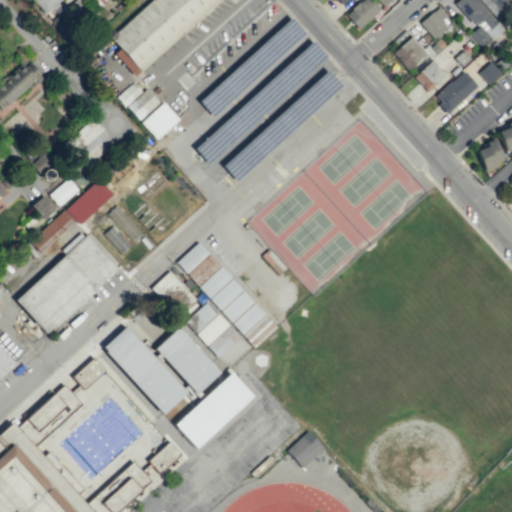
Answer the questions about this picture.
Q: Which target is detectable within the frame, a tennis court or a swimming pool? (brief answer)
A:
tennis court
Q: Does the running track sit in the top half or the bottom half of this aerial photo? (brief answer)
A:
bottom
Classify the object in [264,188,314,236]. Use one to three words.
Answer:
tennis court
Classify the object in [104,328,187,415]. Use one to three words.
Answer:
building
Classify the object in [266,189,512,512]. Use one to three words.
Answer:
sports field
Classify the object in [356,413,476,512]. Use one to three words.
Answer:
baseball field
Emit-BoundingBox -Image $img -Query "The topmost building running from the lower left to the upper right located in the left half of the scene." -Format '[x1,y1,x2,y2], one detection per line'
[113,0,223,71]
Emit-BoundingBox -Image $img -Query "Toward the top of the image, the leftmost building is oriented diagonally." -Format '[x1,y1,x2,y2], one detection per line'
[0,60,38,104]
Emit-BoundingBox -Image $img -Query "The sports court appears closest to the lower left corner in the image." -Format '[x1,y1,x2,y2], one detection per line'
[61,399,142,478]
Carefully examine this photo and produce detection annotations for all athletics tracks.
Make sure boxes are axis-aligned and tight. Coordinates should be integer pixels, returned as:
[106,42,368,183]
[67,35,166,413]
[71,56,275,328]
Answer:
[223,483,351,512]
